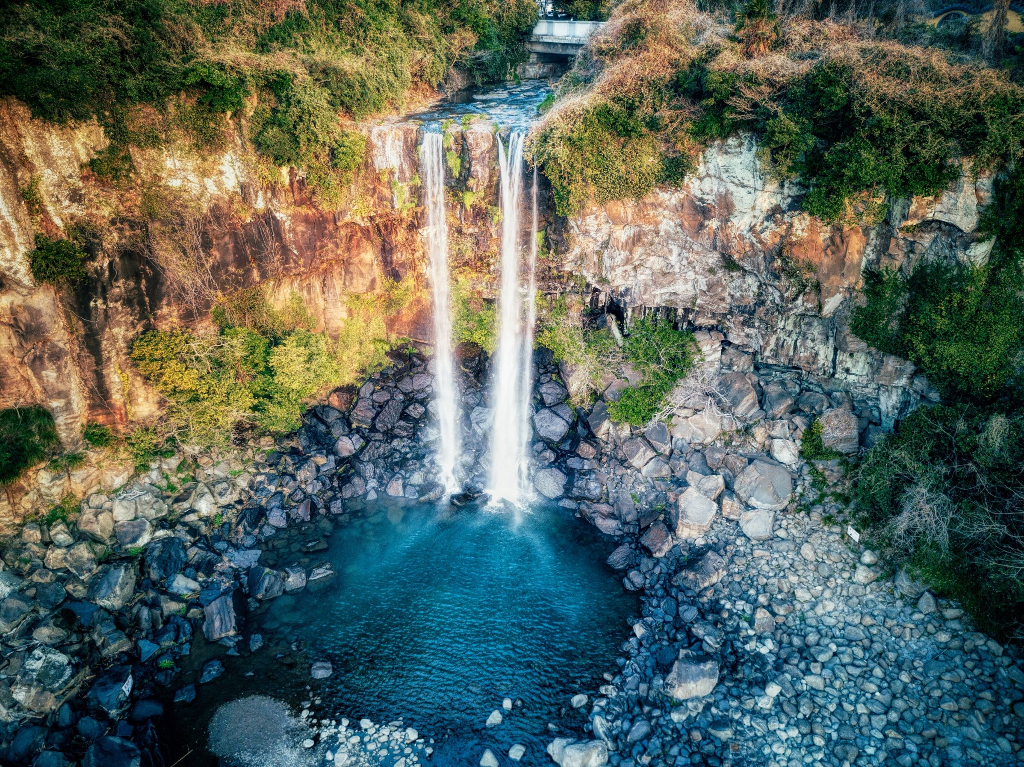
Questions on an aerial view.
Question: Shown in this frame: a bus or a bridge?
bridge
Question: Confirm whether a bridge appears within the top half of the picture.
Yes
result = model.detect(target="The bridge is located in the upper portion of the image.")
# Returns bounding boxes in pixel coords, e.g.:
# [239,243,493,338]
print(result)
[521,16,618,78]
